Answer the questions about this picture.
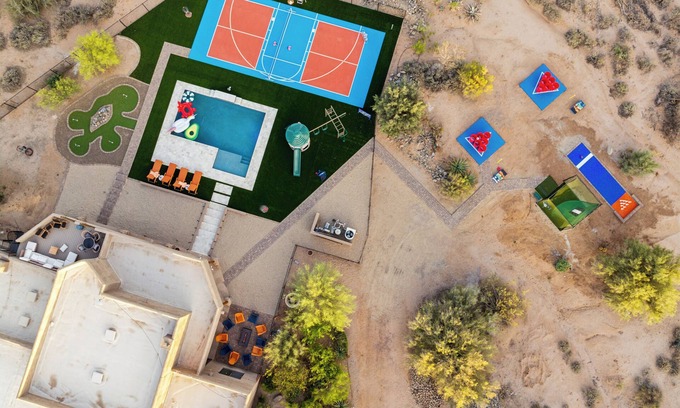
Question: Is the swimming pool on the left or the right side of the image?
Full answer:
The swimming pool sits on the left side.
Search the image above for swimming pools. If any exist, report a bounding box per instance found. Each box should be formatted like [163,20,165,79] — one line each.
[151,80,278,191]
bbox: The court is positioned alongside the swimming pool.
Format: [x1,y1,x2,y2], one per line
[188,0,386,107]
